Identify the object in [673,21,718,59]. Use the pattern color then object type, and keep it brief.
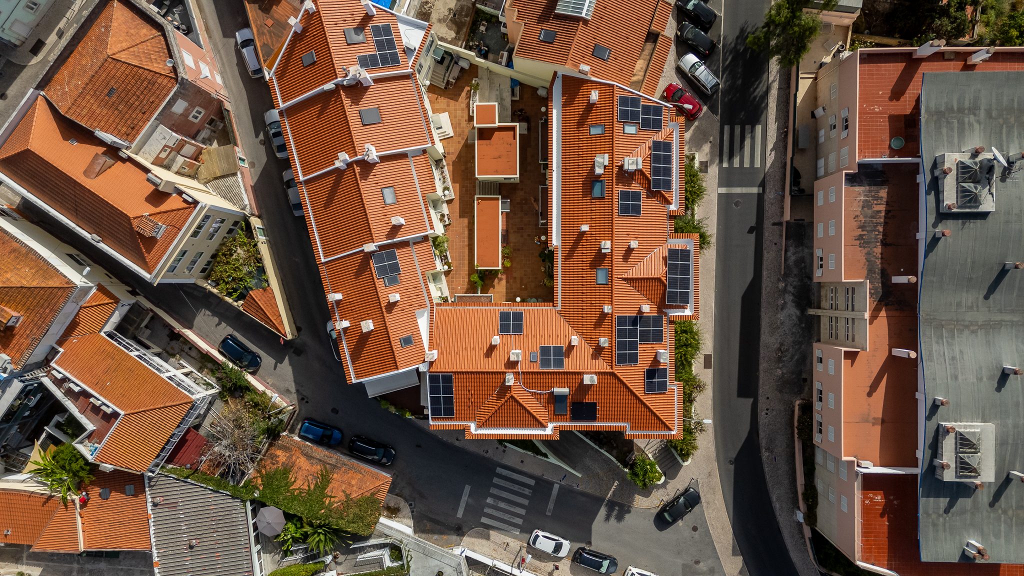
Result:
black car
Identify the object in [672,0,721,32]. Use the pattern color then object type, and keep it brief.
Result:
black car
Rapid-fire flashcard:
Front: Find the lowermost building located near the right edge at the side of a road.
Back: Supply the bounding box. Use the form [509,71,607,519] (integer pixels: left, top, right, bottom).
[808,40,1024,576]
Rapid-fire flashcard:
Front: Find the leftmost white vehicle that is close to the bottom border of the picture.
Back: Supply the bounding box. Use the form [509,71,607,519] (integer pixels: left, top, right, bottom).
[528,528,570,558]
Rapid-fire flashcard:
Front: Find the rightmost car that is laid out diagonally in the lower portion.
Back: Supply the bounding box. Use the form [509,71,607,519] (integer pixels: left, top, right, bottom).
[653,486,702,530]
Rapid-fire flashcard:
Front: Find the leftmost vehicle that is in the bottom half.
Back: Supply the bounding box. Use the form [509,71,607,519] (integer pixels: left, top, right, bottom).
[217,334,264,370]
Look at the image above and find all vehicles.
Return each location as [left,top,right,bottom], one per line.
[237,29,267,78]
[674,53,723,98]
[324,320,342,365]
[673,21,718,59]
[528,528,570,558]
[217,334,264,370]
[262,110,290,160]
[571,544,617,575]
[299,419,345,446]
[281,170,305,217]
[653,486,702,530]
[672,0,721,32]
[659,82,705,125]
[617,560,664,576]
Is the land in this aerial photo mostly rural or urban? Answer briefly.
urban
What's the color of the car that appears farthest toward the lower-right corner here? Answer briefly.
black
